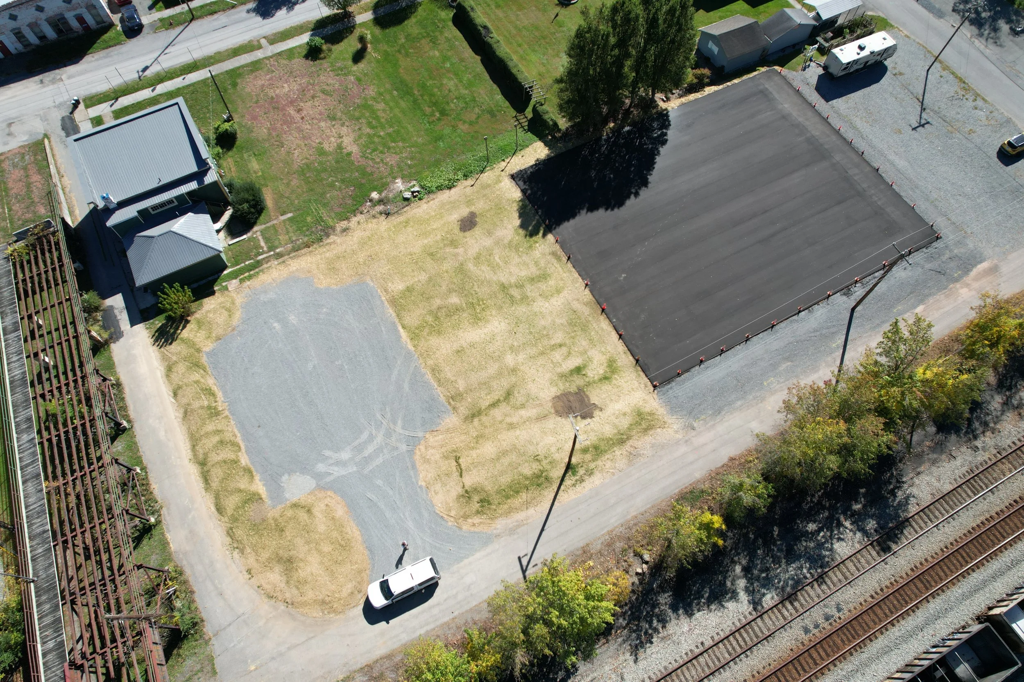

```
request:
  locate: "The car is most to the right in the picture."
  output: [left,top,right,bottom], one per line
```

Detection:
[994,123,1024,152]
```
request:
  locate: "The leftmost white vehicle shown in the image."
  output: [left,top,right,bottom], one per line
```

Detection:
[367,559,442,610]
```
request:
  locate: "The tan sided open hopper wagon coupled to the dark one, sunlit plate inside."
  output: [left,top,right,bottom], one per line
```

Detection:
[980,580,1024,653]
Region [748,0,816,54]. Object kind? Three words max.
shed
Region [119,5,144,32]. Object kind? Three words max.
car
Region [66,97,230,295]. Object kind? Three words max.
building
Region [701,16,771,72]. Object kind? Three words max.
shed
